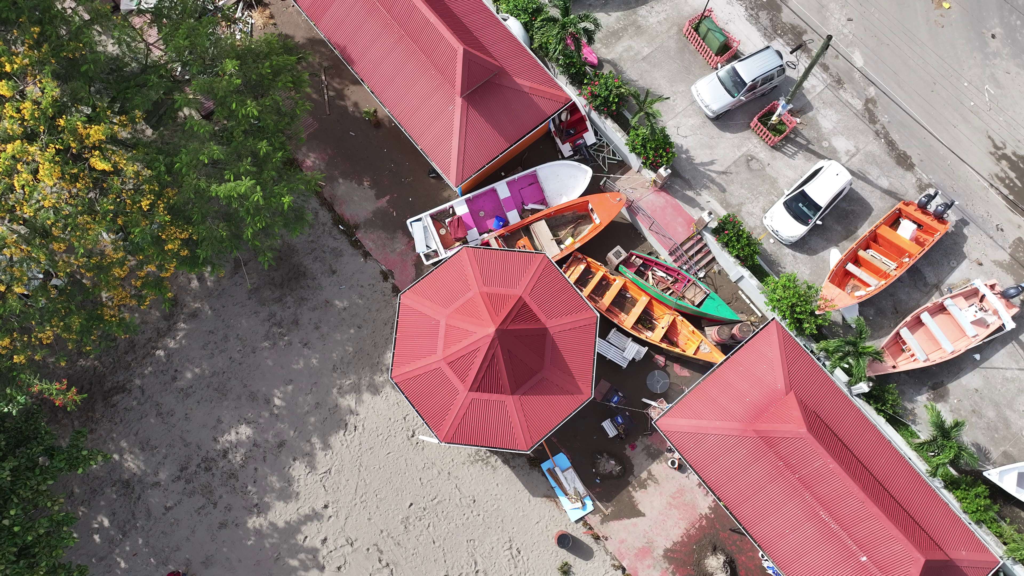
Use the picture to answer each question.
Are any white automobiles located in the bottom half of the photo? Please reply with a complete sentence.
No, there is no white automobile in the bottom half of the photo.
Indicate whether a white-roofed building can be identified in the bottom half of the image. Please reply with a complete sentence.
No, no white-roofed building can be made out in the bottom half of the image.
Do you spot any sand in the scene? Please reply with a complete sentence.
Yes, sand shows up in the scene.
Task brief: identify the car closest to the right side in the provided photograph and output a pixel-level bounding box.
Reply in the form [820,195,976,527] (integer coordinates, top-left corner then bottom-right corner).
[762,151,860,245]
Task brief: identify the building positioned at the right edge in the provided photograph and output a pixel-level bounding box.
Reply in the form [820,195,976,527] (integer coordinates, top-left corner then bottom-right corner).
[647,312,1009,576]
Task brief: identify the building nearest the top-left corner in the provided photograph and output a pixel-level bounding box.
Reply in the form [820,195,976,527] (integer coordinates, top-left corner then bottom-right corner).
[286,0,579,198]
